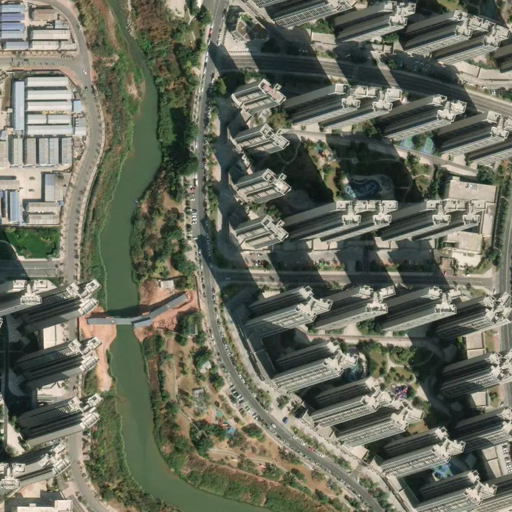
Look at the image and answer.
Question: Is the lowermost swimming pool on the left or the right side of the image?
right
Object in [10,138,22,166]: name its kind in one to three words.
shed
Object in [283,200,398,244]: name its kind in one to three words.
building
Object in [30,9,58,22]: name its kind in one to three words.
house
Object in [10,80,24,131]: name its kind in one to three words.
shed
